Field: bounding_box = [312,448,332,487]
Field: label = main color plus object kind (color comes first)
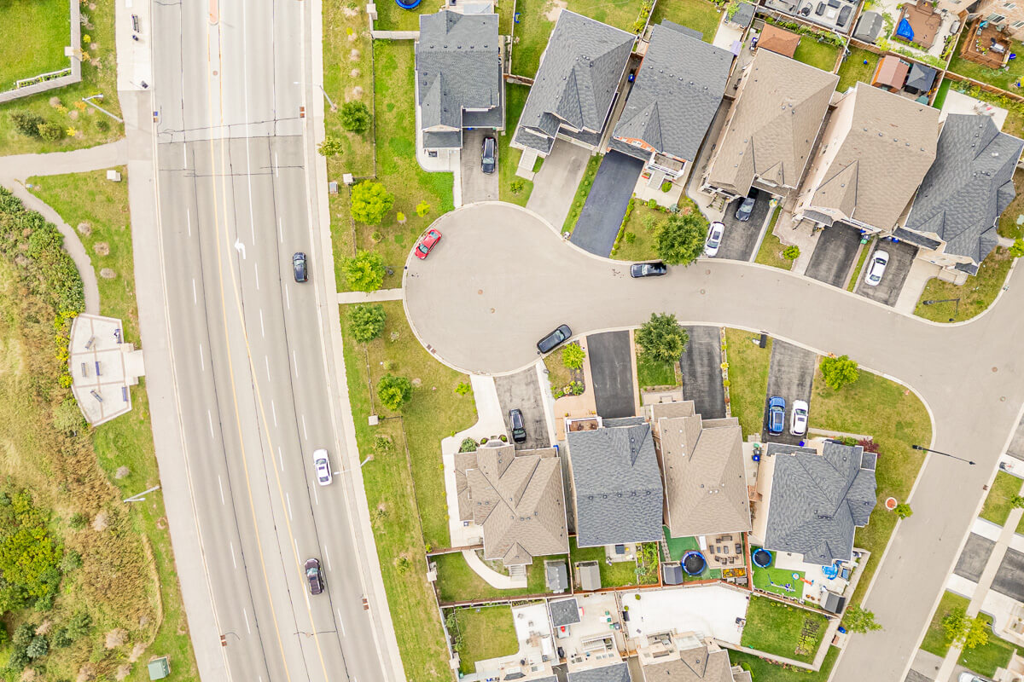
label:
white car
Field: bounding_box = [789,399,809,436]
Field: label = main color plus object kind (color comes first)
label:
white car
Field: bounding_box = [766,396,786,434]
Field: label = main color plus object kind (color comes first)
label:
blue car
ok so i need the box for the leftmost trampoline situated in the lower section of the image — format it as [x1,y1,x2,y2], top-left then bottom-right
[682,551,708,577]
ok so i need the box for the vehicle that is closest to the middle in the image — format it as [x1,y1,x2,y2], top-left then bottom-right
[536,323,573,355]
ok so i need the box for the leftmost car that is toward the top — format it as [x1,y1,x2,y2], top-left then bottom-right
[290,250,309,284]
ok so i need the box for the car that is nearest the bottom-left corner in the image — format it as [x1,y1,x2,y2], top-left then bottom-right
[304,557,325,596]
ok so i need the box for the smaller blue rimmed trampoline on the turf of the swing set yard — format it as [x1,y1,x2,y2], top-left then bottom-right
[751,548,775,570]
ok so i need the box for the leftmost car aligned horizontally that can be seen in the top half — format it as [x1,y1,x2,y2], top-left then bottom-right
[630,261,667,278]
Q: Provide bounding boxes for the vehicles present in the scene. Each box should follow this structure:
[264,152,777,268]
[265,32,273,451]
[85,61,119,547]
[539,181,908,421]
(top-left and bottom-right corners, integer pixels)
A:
[536,323,573,355]
[704,220,725,257]
[736,190,759,222]
[480,136,497,173]
[509,407,527,443]
[290,250,309,284]
[957,669,993,682]
[864,248,888,286]
[630,261,667,278]
[312,448,332,487]
[766,396,786,434]
[304,557,325,596]
[789,399,809,436]
[415,228,442,260]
